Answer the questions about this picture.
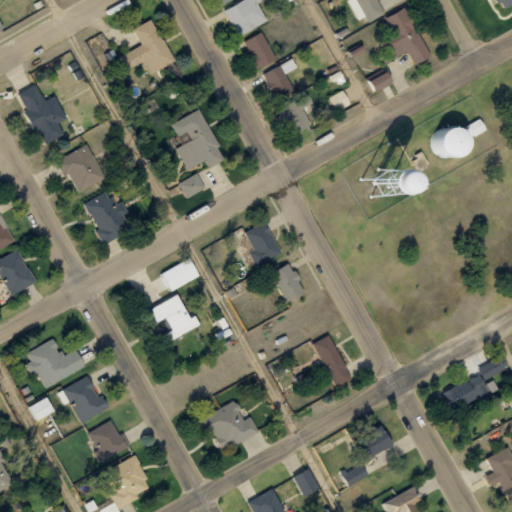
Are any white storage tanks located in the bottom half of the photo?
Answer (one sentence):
No, there's no white storage tank to be seen in the bottom half of the photo.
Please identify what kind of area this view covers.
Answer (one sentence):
The area seen from above is a residential area.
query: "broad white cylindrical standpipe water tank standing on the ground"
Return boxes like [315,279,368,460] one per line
[432,128,473,158]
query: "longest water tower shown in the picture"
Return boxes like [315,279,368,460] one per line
[360,166,428,200]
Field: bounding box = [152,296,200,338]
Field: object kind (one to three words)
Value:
house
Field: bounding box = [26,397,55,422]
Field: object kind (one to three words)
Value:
shed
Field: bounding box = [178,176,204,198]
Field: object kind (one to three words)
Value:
building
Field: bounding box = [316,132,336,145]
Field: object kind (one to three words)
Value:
vehicle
